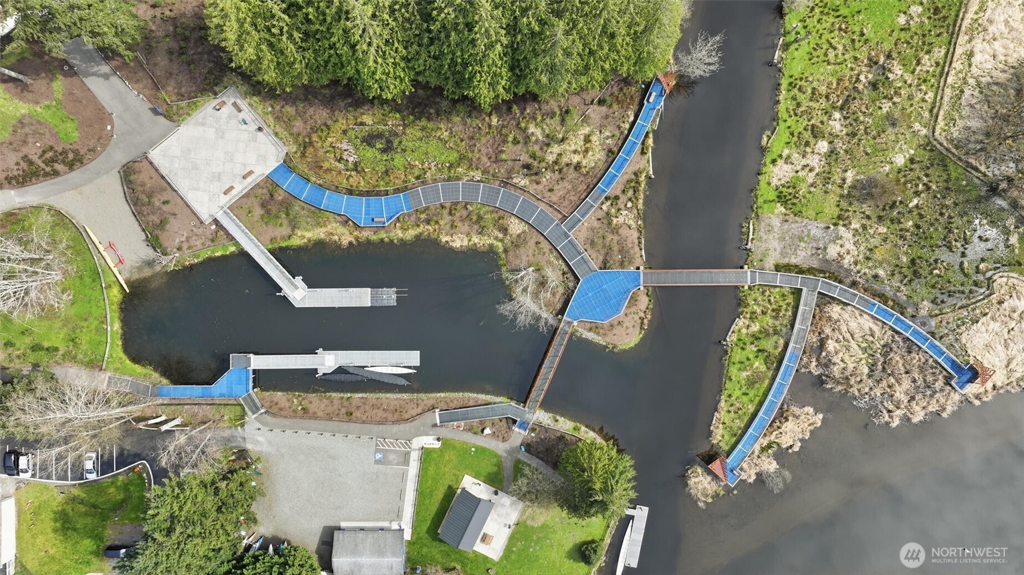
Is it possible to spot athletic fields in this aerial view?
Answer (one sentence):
No, there is no athletic field in the image.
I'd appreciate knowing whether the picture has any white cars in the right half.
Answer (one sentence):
No, I see no white car in the right half.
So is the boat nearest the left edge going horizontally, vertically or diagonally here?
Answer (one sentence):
The boat nearest the left edge is oriented diagonally.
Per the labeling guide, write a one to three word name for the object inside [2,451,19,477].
car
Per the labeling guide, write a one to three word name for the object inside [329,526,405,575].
building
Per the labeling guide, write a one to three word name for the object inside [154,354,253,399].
pier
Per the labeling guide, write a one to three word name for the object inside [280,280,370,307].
pier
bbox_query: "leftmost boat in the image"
[83,224,129,292]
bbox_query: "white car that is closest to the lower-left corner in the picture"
[18,451,35,478]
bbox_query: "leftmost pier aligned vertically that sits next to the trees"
[625,505,649,569]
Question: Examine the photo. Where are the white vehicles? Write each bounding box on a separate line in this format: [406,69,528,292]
[82,451,97,478]
[18,451,35,478]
